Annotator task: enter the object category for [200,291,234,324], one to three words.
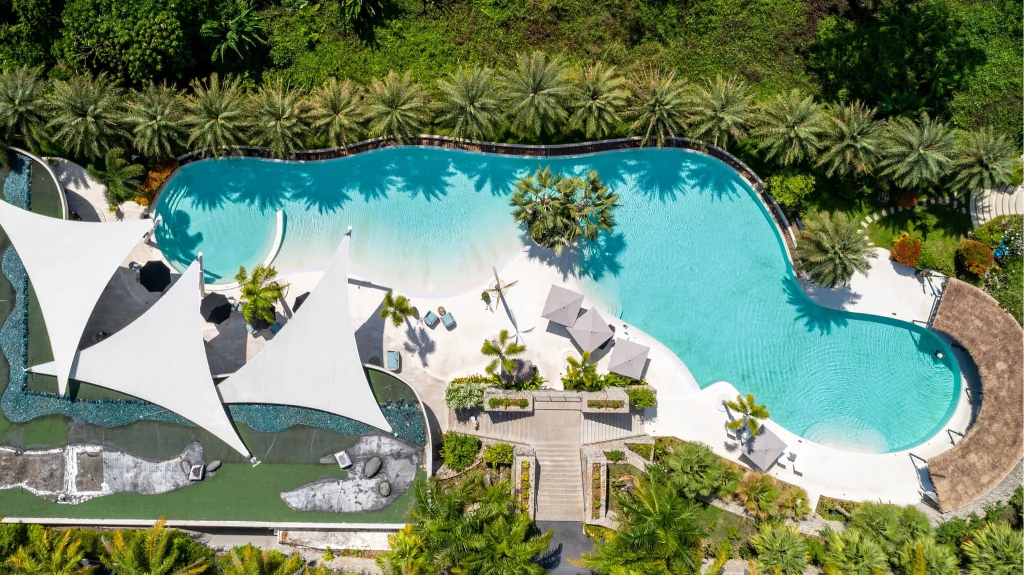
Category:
umbrella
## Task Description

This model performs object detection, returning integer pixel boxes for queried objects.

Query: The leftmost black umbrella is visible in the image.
[140,261,174,291]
